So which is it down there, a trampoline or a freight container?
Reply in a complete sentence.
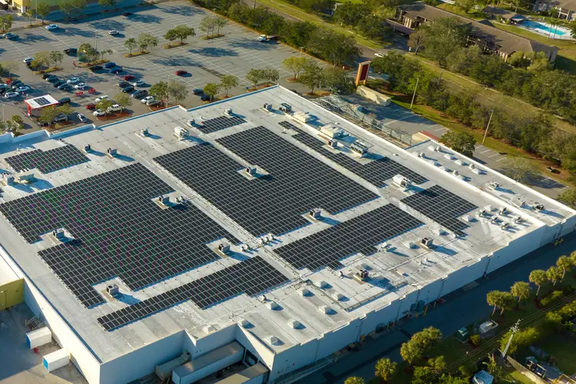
It is a freight container that can be seen here.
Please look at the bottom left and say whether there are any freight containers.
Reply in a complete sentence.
Yes, a freight container appears at the bottom left.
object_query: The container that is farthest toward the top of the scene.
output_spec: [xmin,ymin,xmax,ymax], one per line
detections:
[24,325,56,351]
